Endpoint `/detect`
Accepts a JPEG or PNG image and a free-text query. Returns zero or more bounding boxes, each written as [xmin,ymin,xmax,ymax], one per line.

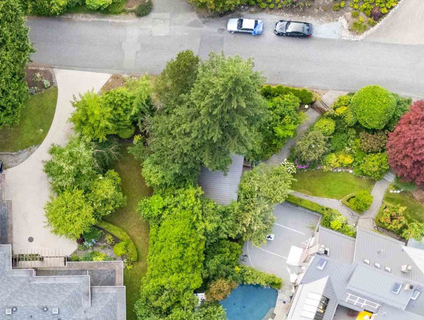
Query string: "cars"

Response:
[273,20,315,37]
[0,159,7,173]
[227,17,263,35]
